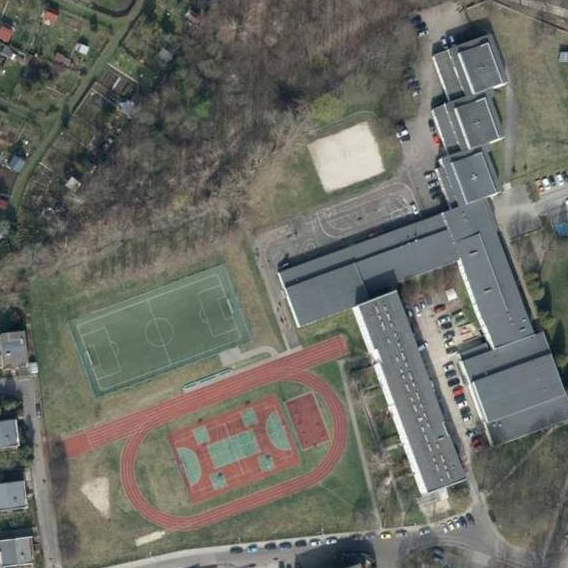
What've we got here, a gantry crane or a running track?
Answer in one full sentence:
Of the two, only a running track appears.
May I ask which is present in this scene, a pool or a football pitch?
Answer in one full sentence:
This aerial view contains a football pitch.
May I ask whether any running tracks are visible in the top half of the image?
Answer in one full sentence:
No, I see no running track in the top half of the image.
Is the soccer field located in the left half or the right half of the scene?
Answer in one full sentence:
You can find the soccer field on the left side of the picture.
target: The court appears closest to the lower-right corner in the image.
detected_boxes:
[284,392,328,449]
